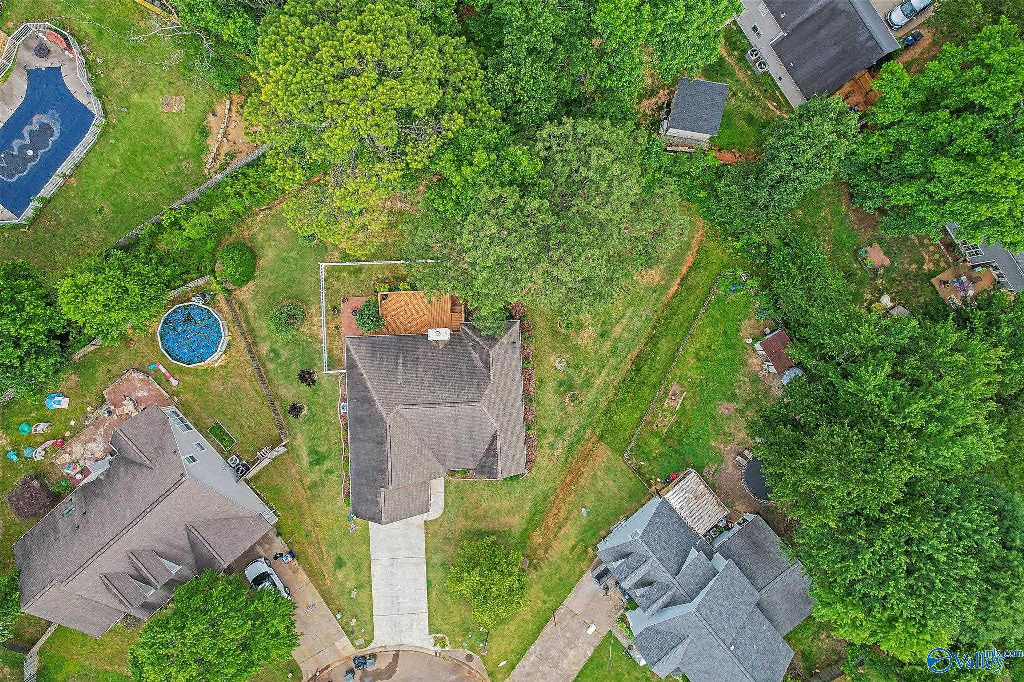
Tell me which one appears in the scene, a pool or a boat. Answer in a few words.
pool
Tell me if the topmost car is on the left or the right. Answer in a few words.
right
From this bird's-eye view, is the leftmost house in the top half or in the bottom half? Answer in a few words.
bottom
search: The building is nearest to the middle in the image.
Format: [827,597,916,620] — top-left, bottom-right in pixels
[344,319,527,525]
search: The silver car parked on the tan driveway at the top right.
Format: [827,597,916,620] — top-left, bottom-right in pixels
[890,0,940,26]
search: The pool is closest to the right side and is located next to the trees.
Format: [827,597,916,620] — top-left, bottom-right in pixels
[156,300,231,369]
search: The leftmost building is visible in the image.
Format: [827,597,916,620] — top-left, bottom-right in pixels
[13,403,279,639]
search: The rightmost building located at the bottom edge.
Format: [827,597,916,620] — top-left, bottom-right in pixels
[596,494,823,682]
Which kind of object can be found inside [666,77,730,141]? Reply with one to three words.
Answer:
shed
